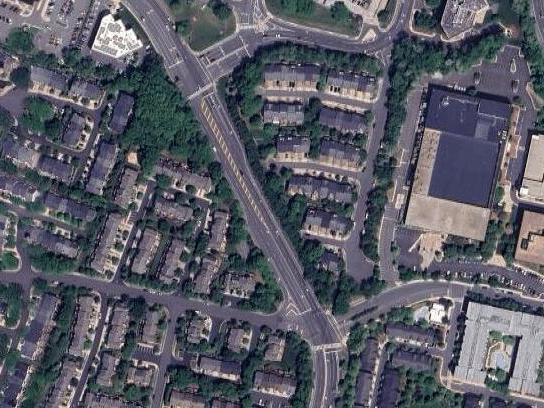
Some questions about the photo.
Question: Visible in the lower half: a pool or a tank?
pool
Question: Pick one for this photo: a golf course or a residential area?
residential area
